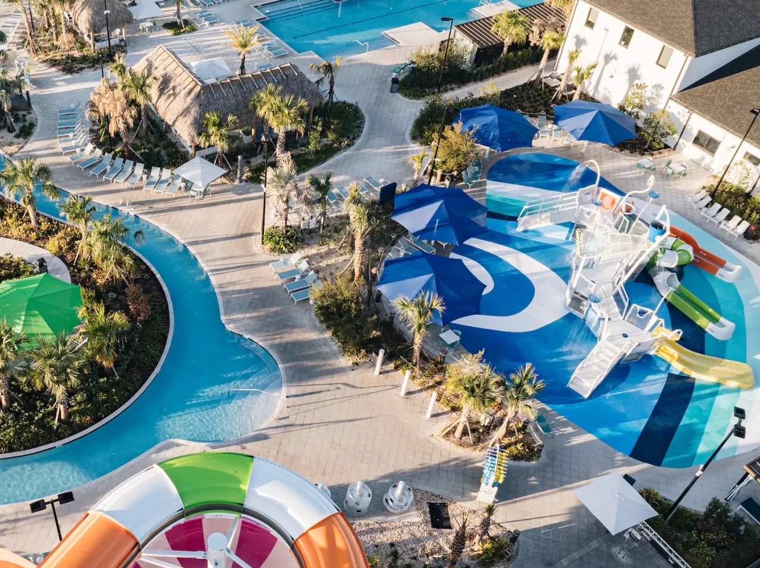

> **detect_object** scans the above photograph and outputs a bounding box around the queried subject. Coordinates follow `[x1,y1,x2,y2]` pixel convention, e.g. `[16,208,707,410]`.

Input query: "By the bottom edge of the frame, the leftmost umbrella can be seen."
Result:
[570,471,657,547]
